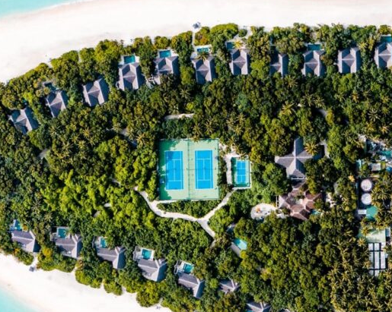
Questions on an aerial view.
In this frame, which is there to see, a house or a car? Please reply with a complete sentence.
There is a house in the scene.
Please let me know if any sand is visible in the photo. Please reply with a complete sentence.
Yes, there is sand in the image.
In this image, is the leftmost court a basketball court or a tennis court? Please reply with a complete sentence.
The leftmost court in the image is a tennis court.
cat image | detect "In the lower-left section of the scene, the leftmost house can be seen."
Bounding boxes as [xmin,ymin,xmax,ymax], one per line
[10,217,38,251]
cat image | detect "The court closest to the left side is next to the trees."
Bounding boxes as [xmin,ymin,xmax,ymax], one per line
[159,139,220,199]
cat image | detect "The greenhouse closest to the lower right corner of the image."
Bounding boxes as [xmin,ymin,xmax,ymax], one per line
[367,243,386,276]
